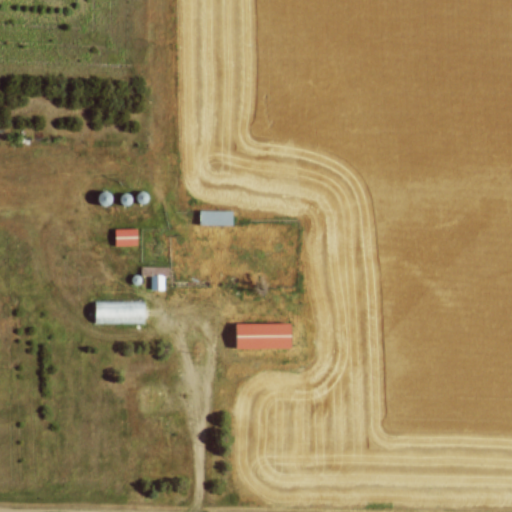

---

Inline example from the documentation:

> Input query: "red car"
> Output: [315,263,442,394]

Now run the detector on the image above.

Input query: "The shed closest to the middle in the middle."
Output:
[200,211,234,226]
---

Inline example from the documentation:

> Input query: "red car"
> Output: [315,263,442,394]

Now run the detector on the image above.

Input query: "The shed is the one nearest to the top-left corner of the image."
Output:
[114,229,139,247]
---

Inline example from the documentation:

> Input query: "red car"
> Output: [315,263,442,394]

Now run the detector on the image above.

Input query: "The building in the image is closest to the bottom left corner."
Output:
[95,301,148,325]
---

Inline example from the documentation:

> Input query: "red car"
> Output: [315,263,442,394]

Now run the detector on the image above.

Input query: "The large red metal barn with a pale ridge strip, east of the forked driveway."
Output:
[236,324,292,350]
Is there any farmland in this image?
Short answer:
Yes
